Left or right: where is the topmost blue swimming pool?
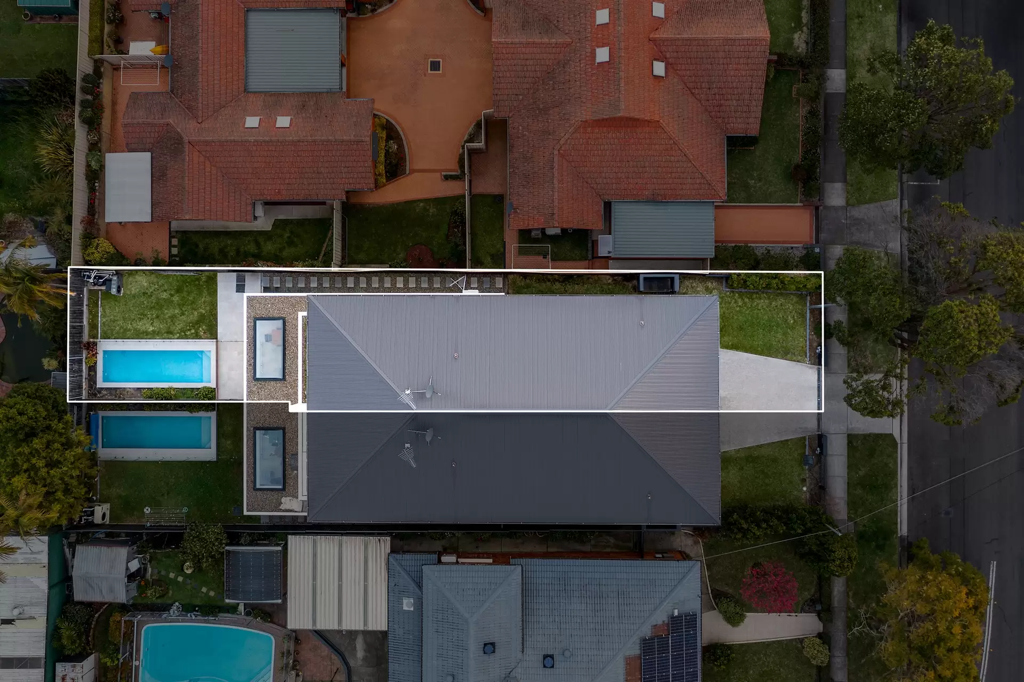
left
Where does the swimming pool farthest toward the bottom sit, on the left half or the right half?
left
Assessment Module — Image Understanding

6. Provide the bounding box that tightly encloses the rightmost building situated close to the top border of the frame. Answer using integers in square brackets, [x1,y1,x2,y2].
[492,0,770,231]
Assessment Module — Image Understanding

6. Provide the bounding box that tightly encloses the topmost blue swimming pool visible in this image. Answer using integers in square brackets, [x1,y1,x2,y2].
[98,340,217,388]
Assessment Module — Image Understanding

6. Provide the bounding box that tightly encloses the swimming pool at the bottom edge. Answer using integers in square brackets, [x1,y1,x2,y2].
[138,621,275,682]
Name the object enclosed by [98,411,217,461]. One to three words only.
swimming pool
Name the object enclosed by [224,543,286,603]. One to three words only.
shed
